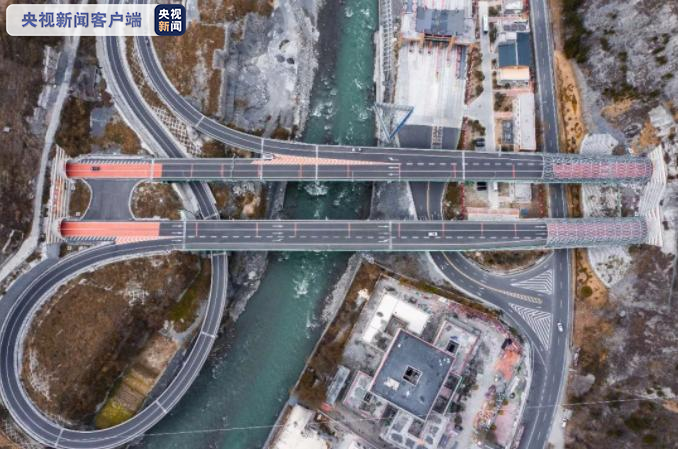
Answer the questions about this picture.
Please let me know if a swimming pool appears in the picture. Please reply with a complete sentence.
No, this view has no swimming pool in it.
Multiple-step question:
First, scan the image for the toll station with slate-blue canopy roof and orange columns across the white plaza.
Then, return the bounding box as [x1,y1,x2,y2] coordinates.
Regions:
[399,8,476,53]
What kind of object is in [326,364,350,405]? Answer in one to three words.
shed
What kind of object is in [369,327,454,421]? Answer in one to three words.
building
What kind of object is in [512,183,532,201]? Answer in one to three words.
house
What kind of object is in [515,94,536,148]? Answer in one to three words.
house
